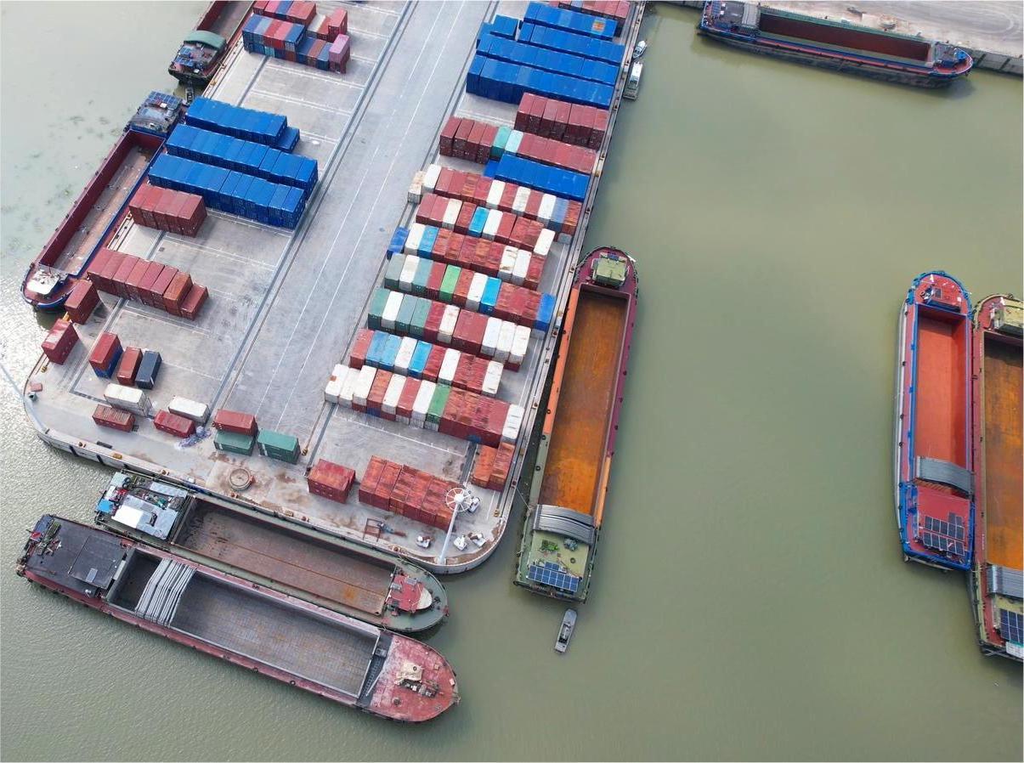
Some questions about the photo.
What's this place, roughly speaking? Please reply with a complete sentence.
The area seen from above is a port.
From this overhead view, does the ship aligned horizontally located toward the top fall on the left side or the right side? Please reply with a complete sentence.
The ship aligned horizontally located toward the top sits on the right side.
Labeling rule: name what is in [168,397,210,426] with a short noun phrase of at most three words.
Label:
shipping container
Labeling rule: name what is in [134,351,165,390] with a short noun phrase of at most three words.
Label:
shipping container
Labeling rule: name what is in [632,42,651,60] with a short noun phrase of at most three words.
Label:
boat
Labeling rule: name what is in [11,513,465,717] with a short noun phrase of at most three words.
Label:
ship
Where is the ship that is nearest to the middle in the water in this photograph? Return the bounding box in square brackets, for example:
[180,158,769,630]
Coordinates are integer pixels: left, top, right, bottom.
[516,245,638,601]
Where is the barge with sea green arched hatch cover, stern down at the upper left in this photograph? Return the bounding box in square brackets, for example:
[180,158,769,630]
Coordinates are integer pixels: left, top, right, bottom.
[167,0,258,86]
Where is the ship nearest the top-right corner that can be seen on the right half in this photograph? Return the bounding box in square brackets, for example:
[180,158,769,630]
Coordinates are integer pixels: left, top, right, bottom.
[703,0,979,90]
